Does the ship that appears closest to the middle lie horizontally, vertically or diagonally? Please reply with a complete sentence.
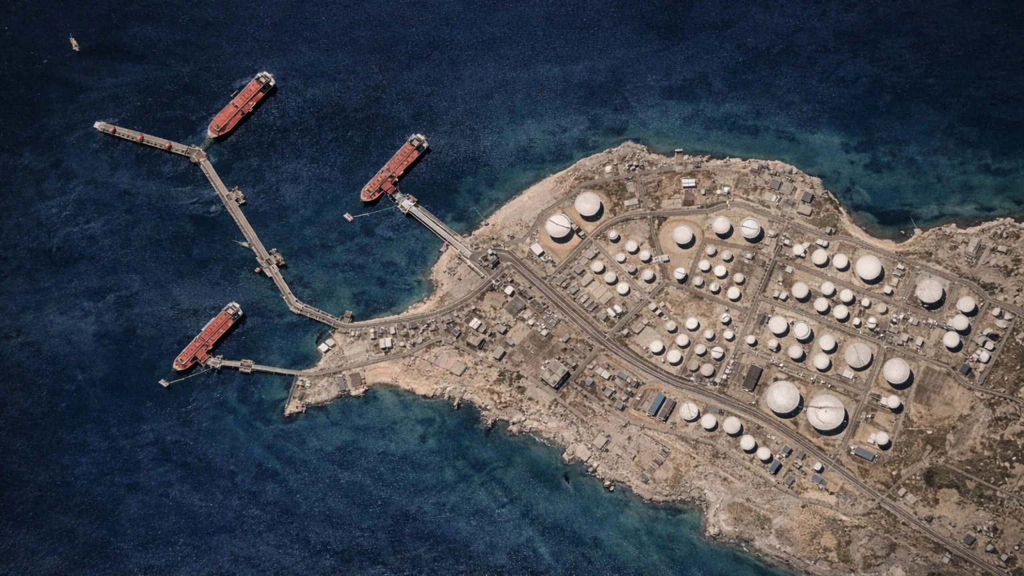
The ship that appears closest to the middle is laid out diagonally.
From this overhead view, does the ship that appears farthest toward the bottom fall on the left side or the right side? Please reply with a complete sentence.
The ship that appears farthest toward the bottom is on the left side of the image.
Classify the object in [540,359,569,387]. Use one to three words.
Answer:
building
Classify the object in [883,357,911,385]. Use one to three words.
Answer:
storage tank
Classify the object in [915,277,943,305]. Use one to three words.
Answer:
storage tank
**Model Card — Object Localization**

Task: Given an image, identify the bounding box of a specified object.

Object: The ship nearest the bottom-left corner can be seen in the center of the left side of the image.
[173,302,241,371]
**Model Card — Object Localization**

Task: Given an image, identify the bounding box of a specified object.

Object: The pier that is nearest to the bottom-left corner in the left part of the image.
[199,352,299,376]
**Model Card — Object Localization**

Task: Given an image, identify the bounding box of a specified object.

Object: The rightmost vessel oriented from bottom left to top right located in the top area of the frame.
[361,135,427,201]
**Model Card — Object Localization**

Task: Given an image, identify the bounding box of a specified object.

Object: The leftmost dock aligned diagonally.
[94,120,340,330]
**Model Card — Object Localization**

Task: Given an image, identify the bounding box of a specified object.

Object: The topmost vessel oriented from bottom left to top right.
[207,70,275,140]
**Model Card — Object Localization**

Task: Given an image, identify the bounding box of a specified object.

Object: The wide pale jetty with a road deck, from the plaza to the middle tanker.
[391,191,485,276]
